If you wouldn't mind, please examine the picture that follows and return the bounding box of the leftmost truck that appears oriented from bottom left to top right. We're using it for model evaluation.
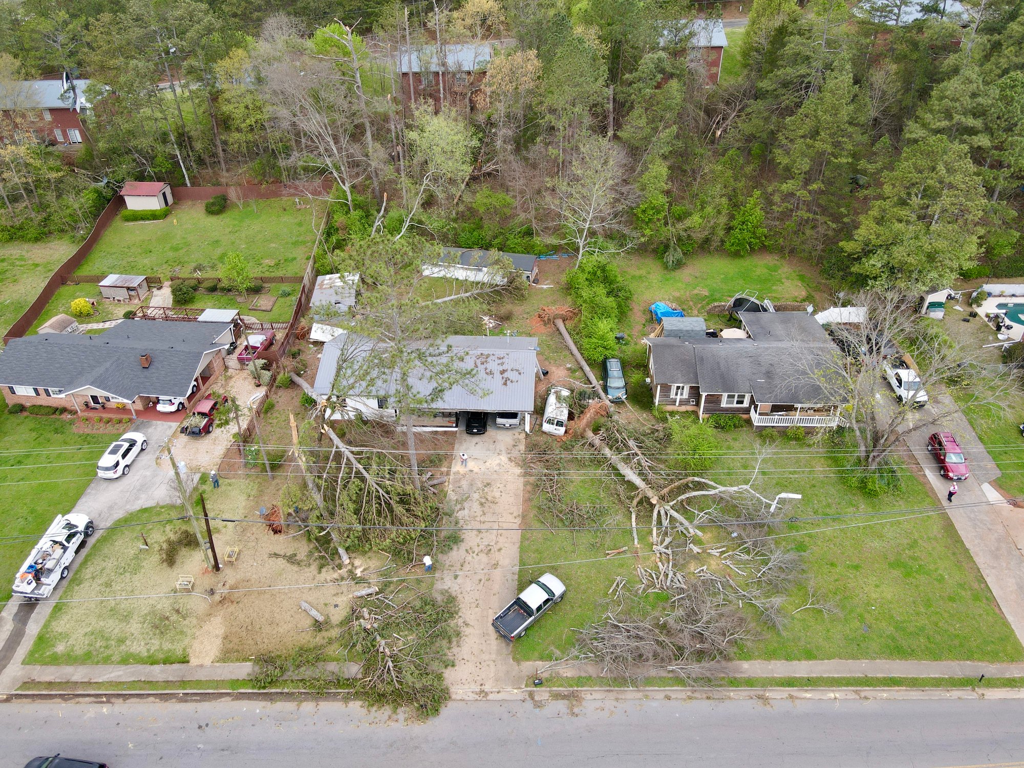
[13,503,96,592]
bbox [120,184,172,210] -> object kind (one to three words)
shed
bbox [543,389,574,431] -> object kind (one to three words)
van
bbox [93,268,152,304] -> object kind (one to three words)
shed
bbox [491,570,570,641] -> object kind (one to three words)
truck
